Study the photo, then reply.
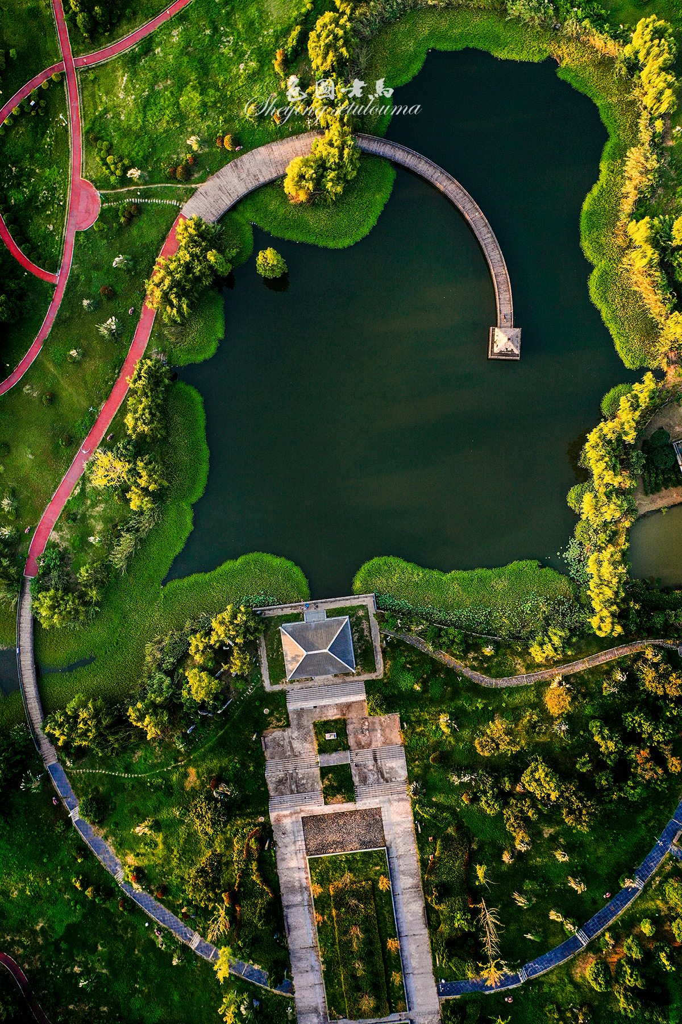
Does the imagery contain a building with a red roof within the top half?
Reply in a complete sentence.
No, no building with a red roof can be made out within the top half.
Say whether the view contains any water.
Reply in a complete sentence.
Yes, water can be seen from above here.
